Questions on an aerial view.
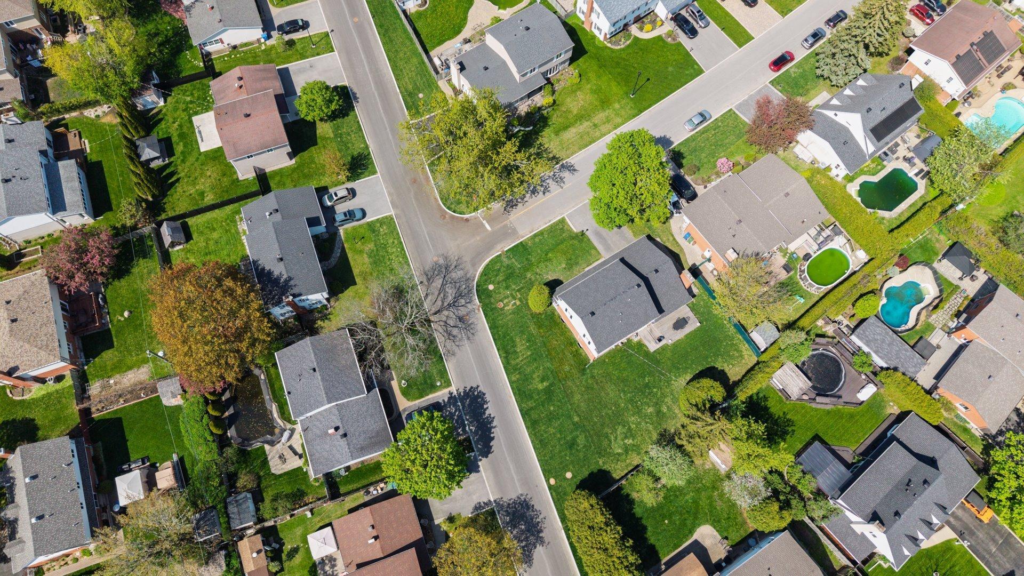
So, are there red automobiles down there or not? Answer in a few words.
Yes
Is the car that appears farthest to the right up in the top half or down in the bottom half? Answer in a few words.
bottom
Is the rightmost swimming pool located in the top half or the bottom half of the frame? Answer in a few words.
top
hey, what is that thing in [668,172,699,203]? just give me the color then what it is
black car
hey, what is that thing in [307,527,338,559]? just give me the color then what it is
white gazebo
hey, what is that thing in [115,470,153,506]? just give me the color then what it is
white gazebo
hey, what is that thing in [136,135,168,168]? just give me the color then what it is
gray gazebo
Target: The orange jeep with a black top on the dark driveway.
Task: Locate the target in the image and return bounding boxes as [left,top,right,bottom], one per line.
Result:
[961,490,994,525]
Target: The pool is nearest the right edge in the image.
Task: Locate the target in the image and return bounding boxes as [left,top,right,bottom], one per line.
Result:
[965,96,1024,148]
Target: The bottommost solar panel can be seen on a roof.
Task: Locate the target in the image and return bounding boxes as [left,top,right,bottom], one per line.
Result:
[871,100,916,142]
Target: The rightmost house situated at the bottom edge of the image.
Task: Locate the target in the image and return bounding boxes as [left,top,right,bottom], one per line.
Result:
[817,412,981,572]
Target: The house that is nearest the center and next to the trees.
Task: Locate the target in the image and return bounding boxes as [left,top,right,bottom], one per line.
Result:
[556,236,694,358]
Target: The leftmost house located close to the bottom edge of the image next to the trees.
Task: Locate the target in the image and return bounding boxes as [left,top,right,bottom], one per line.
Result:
[0,436,108,572]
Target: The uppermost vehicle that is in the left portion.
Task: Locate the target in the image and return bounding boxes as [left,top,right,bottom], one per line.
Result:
[276,18,306,37]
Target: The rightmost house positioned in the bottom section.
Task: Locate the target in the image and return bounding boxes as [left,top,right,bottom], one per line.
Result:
[929,284,1024,435]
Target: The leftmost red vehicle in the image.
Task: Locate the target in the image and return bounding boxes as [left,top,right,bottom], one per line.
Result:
[768,51,795,73]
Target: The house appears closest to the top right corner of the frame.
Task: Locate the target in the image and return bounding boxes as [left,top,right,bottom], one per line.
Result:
[896,0,1023,107]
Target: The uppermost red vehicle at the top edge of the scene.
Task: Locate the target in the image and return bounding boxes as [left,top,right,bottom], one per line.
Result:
[909,4,935,26]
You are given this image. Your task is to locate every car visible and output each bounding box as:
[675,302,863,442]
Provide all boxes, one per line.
[917,0,947,19]
[800,28,827,50]
[822,10,849,31]
[665,191,684,219]
[276,18,306,37]
[668,172,699,203]
[683,110,712,132]
[909,4,935,26]
[685,4,710,29]
[961,490,994,525]
[332,208,366,228]
[405,399,442,424]
[321,186,354,209]
[672,14,698,39]
[768,51,795,73]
